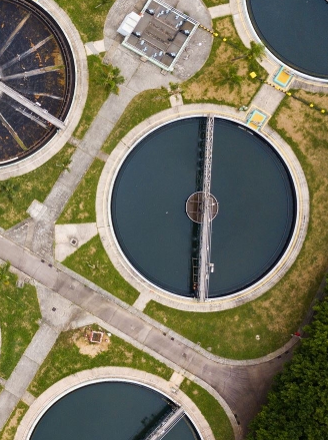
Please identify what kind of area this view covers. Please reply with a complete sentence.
It's an industrial area.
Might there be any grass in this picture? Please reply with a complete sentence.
Yes, there is grass in the image.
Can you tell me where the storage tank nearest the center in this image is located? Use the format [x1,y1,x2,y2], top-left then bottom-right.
[97,102,307,312]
